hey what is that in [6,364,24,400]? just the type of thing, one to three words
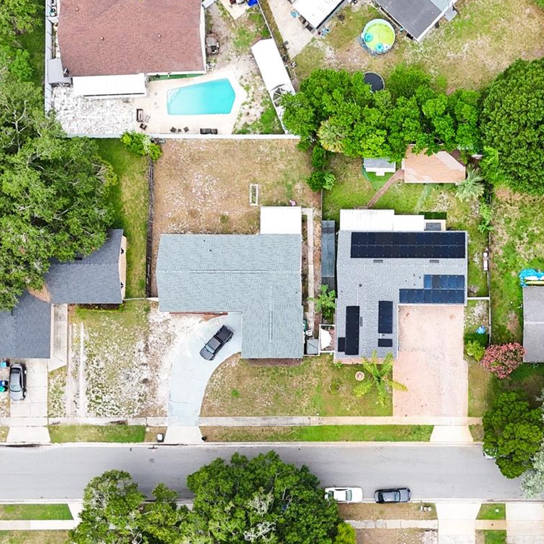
car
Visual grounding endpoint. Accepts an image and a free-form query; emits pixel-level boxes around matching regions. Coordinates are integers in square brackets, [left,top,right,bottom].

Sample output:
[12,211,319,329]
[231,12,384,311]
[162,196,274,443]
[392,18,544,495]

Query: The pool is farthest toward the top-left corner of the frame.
[135,68,247,133]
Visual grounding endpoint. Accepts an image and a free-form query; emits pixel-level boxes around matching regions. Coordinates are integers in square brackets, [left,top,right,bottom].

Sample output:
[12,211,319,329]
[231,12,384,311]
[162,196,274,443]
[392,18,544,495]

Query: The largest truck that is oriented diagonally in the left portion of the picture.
[198,323,234,362]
